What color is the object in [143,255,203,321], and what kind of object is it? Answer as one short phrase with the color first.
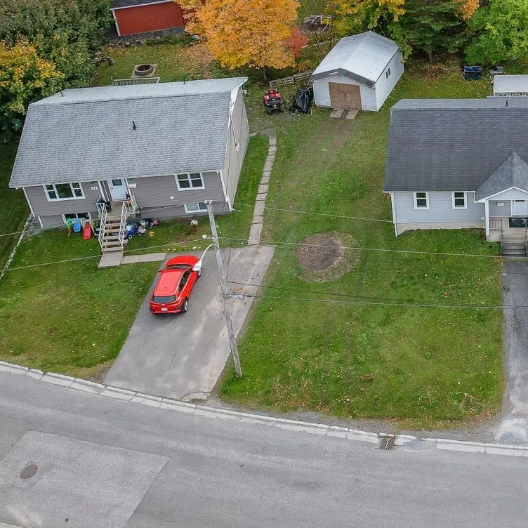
red car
